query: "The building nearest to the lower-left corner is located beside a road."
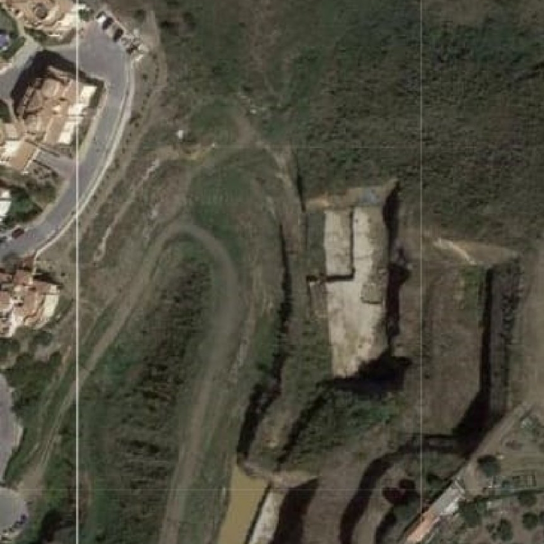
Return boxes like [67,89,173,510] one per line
[0,268,59,336]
